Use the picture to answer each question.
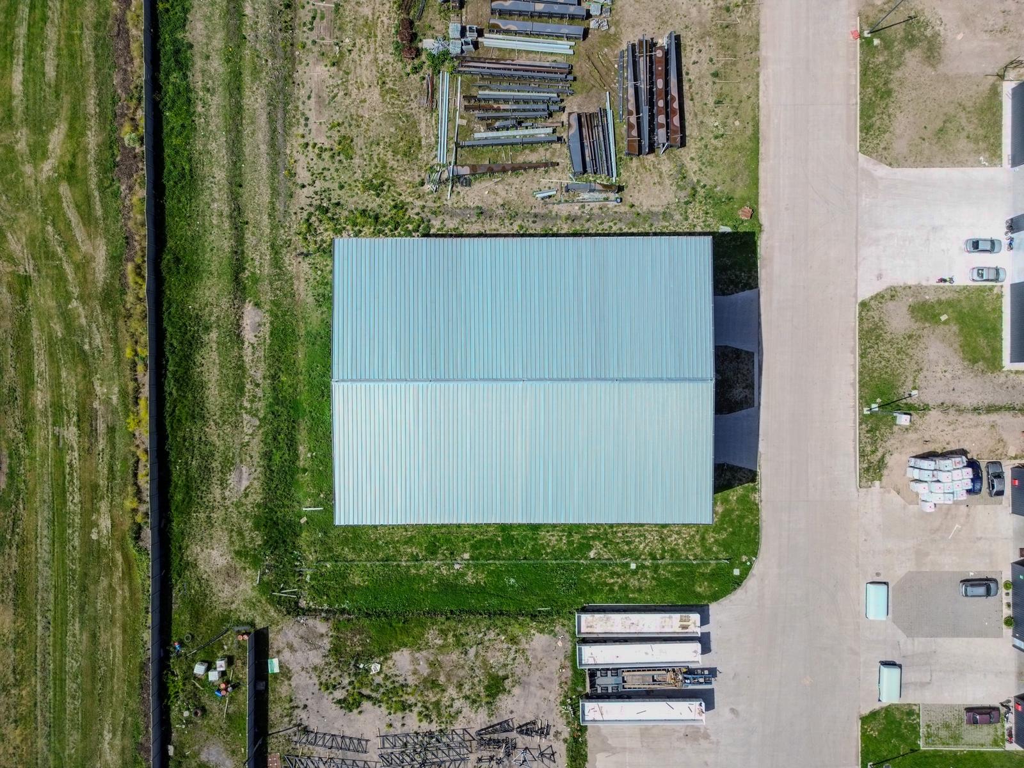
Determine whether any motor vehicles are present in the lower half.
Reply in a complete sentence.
Yes, a motor vehicle shows up in the lower half.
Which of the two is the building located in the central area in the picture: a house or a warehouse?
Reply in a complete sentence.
The building located in the central area appears to be a warehouse.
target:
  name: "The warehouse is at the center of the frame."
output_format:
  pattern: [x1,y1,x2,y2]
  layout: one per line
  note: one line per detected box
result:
[330,236,716,526]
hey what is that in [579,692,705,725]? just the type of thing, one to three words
trailer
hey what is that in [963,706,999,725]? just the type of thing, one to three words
car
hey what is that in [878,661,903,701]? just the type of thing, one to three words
vehicle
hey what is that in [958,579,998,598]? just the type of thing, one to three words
car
